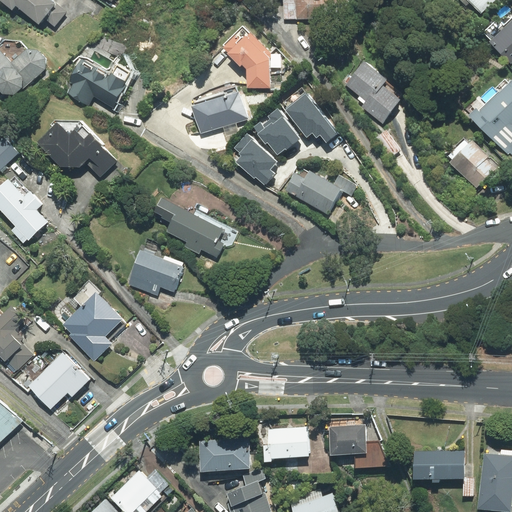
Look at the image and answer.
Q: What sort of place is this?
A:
residential area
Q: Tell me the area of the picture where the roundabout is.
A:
bottom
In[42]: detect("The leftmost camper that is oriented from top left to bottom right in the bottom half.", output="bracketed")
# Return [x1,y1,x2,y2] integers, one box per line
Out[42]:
[34,316,51,334]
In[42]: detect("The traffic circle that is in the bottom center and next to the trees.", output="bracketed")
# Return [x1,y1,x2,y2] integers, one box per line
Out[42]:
[190,352,237,400]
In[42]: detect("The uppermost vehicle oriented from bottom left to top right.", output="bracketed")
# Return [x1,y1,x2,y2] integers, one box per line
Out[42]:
[214,51,228,66]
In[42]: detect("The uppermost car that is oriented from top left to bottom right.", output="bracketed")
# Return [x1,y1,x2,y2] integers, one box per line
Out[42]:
[296,35,310,51]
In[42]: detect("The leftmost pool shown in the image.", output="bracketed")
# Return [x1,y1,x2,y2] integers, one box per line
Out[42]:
[90,50,113,70]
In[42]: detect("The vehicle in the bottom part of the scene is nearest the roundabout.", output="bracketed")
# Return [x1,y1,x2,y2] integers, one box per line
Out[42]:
[182,354,196,370]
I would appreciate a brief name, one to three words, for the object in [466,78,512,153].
house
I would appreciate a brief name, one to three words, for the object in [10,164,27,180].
vehicle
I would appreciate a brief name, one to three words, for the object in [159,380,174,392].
vehicle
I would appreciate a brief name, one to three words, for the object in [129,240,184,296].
house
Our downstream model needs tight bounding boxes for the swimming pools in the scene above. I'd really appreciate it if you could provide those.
[90,50,113,70]
[497,6,512,18]
[480,86,498,104]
